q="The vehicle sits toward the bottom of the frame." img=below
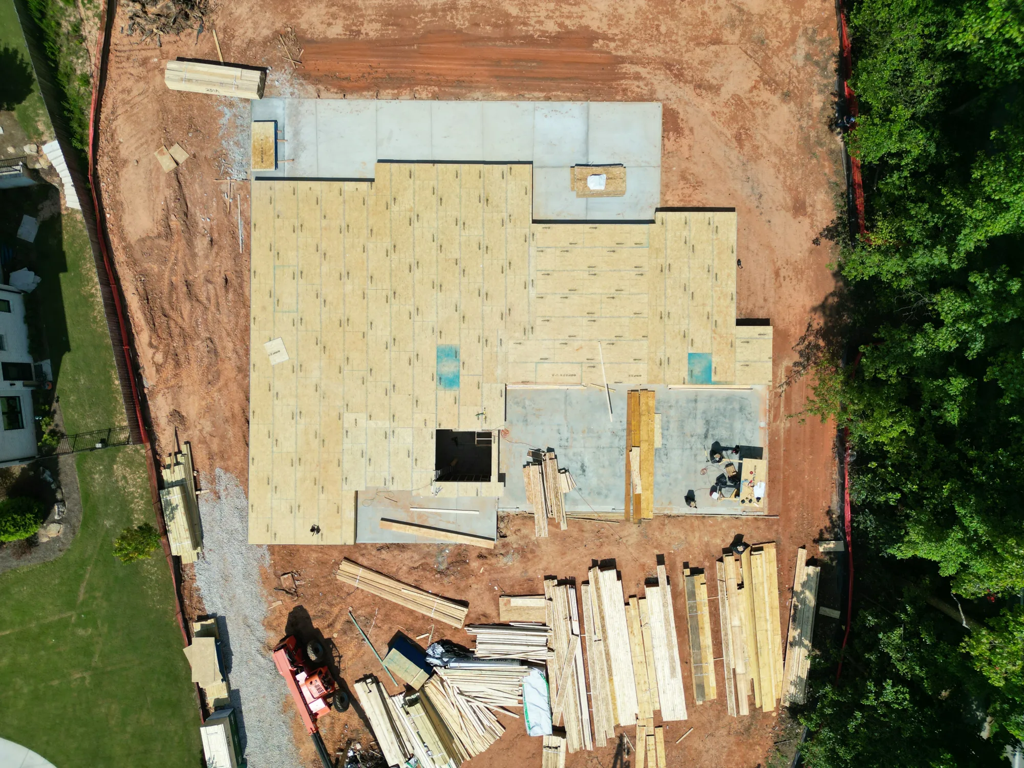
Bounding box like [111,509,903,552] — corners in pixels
[271,631,351,768]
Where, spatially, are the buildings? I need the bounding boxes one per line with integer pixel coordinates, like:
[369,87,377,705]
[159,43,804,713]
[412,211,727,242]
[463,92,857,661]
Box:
[0,283,38,470]
[249,97,774,544]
